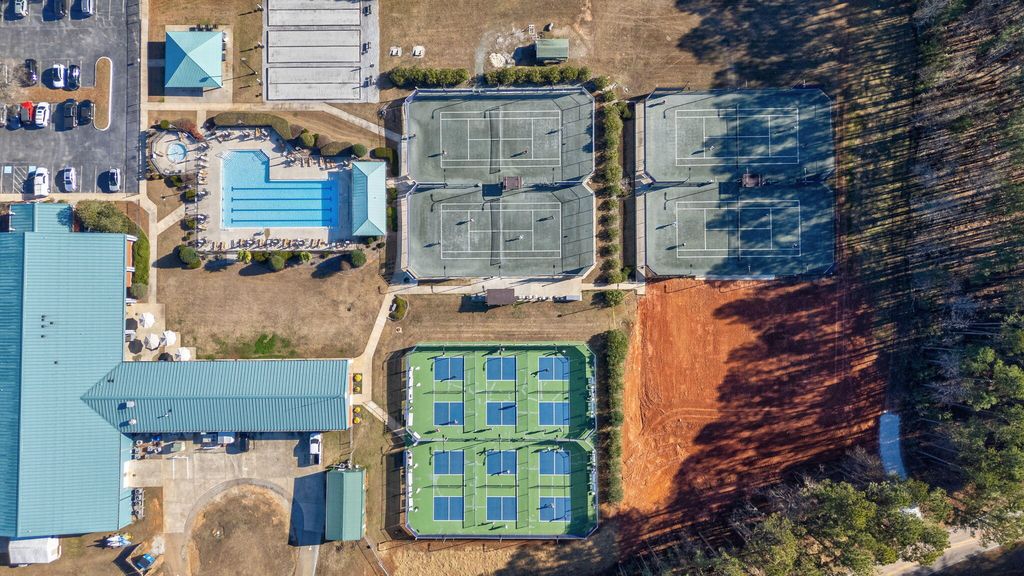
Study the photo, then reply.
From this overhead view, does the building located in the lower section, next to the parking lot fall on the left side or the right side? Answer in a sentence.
It is on the left.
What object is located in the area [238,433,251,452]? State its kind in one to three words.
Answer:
vehicle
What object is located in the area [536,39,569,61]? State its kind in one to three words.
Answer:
shed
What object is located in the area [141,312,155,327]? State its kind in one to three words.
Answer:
umbrella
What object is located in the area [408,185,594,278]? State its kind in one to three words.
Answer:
tennis court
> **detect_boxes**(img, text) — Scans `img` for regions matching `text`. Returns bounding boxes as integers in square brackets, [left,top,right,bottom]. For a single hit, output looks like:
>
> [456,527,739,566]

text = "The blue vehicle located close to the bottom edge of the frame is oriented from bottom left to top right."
[137,552,153,569]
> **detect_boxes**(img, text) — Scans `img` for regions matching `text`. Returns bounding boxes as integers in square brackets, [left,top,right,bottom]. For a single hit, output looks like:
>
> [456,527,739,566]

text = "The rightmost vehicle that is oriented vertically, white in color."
[309,434,322,464]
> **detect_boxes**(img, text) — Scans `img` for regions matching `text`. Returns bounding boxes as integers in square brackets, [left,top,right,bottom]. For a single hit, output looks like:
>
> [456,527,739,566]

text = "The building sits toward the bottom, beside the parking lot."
[0,202,355,537]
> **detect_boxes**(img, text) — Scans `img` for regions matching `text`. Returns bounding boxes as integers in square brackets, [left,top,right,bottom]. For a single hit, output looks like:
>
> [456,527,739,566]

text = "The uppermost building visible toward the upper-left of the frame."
[166,31,226,89]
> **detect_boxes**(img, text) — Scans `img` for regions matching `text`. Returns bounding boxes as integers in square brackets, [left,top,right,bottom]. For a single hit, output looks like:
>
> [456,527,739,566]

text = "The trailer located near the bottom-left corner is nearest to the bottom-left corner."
[7,536,71,565]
